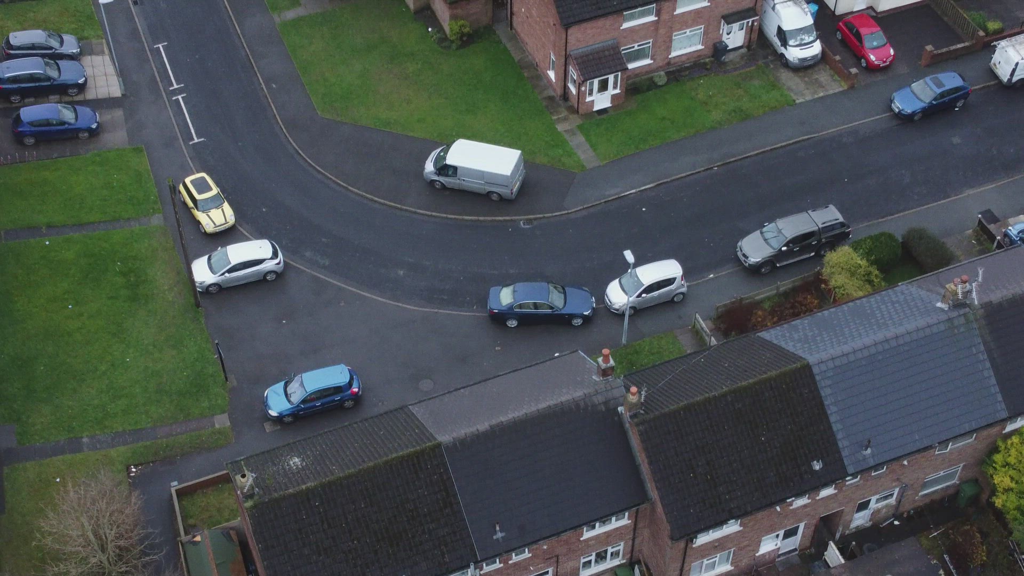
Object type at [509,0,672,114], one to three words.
house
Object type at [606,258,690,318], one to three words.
car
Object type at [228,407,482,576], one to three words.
house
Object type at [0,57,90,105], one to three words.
car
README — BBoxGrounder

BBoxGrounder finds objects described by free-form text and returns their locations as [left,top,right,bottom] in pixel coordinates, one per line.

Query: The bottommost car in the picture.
[264,361,365,426]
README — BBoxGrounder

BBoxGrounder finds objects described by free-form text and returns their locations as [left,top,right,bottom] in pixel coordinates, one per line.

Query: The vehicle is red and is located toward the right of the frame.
[834,13,893,69]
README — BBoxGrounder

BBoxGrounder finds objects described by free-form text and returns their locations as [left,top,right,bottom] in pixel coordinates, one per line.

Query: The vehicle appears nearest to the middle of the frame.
[486,279,596,329]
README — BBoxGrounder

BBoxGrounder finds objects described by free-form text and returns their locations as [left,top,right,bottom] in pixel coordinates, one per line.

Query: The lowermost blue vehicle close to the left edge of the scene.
[12,100,102,146]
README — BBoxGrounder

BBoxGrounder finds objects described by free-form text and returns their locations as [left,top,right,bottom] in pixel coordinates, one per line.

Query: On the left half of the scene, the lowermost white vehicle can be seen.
[192,236,288,295]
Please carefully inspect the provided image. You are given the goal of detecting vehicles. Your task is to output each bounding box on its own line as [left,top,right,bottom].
[192,236,288,295]
[0,26,83,66]
[889,69,973,122]
[176,169,237,237]
[486,279,596,329]
[975,34,1024,92]
[834,13,893,69]
[423,139,528,202]
[606,258,690,318]
[0,57,90,105]
[12,100,102,146]
[736,205,848,277]
[264,361,365,426]
[758,0,822,72]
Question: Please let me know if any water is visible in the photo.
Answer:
No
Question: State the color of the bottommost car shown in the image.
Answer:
blue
